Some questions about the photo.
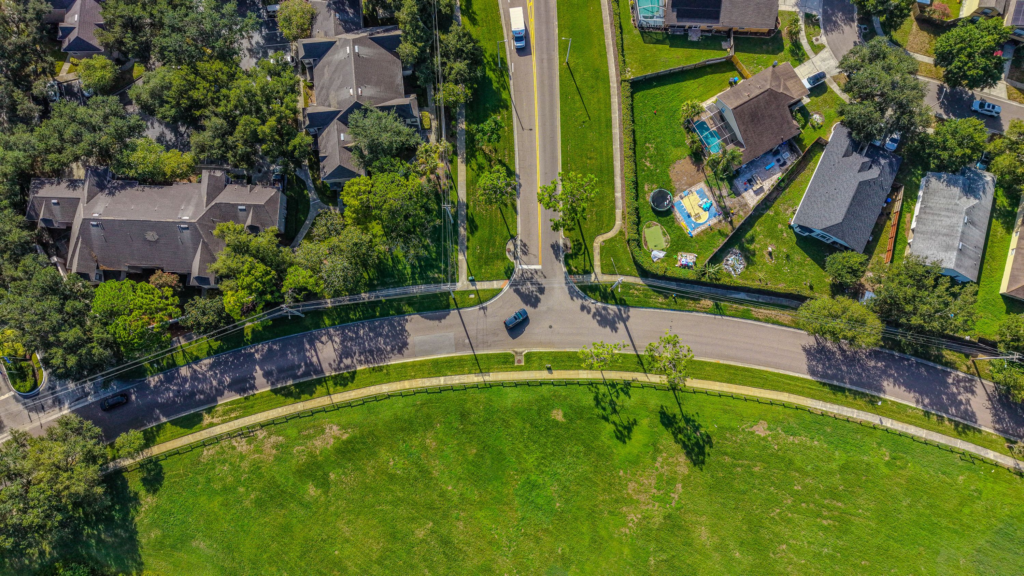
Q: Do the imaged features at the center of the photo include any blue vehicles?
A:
Yes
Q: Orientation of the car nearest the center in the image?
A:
diagonally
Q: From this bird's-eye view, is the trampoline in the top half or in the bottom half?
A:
top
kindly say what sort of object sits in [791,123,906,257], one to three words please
house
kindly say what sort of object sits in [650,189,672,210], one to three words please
trampoline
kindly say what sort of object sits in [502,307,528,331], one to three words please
car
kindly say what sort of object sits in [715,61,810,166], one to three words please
house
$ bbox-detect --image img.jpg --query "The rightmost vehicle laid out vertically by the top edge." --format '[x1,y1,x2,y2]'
[509,7,527,50]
